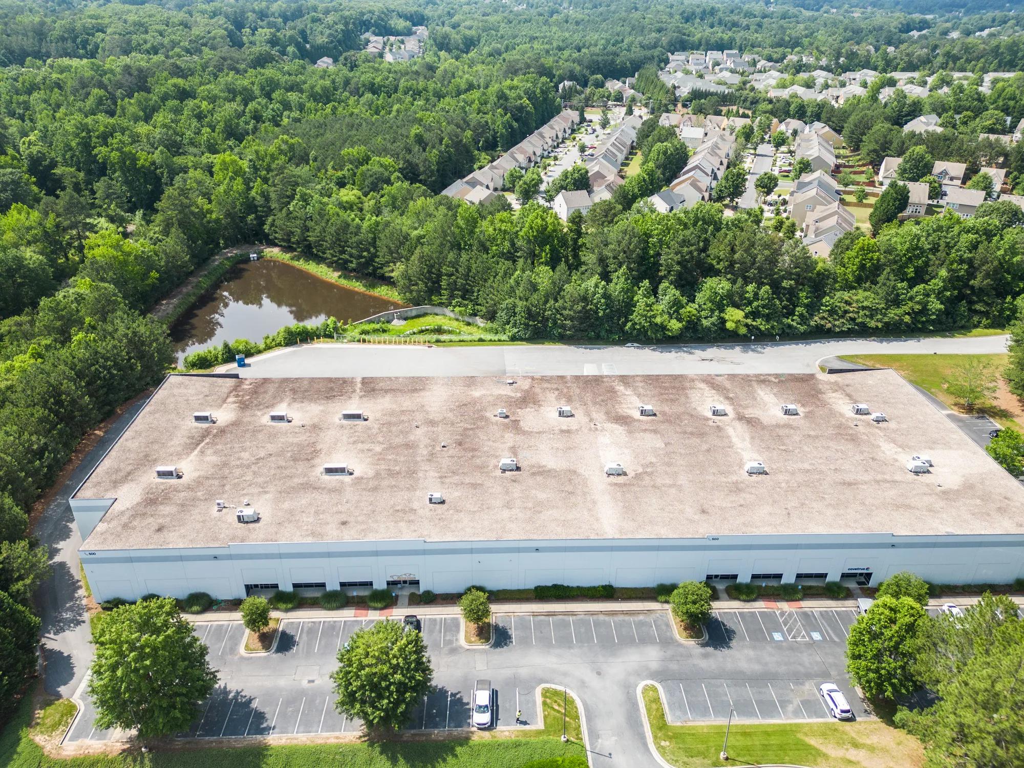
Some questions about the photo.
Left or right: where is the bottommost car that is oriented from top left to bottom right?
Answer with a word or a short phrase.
right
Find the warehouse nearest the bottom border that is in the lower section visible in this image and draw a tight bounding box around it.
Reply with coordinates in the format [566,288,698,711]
[67,368,1024,603]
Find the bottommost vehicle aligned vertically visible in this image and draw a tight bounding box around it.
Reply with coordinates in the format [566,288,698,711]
[474,678,493,724]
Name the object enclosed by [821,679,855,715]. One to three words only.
car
